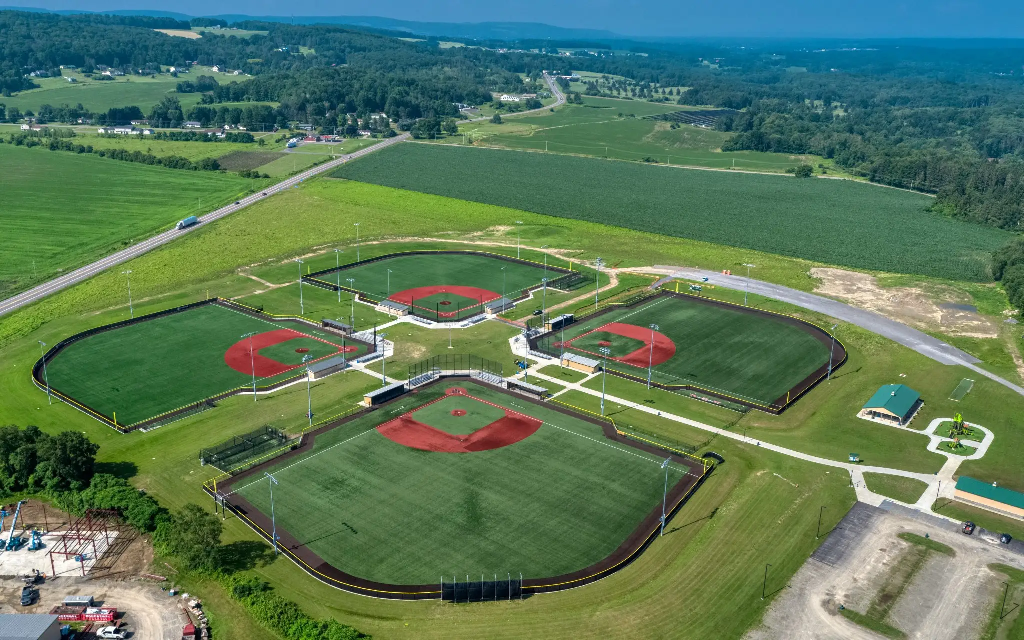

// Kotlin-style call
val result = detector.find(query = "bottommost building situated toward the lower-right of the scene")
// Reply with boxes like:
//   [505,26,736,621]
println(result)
[952,467,1024,519]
